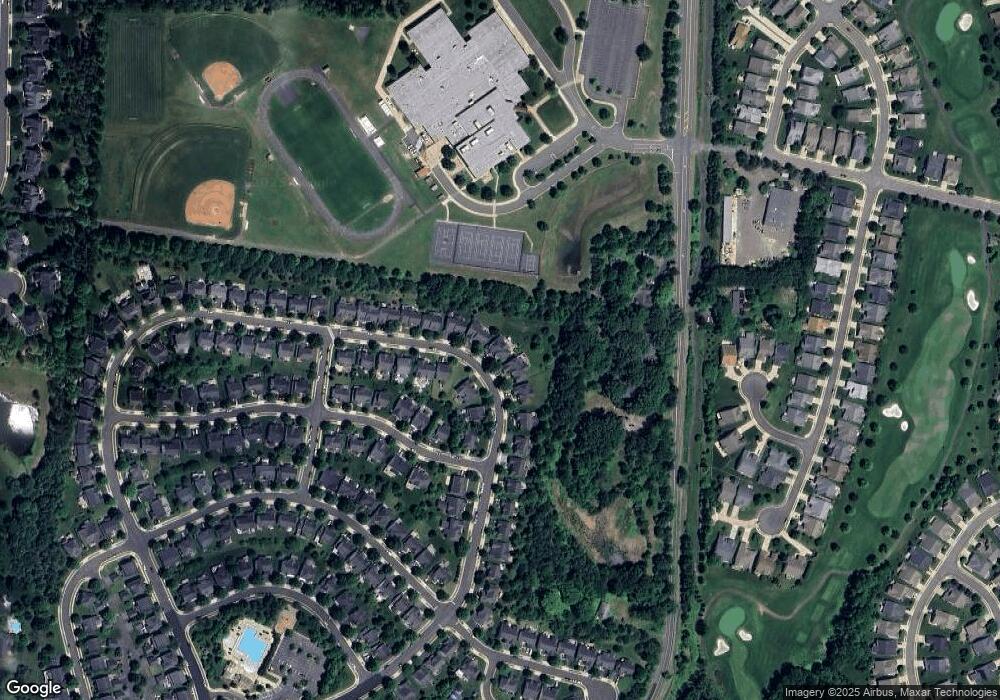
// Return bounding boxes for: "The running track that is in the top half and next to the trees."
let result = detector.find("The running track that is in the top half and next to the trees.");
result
[258,66,405,240]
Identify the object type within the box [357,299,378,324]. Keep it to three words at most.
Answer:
house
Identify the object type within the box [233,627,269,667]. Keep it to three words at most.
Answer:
swimming pool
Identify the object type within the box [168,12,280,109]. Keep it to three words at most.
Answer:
baseball field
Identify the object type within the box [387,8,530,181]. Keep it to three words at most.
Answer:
building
